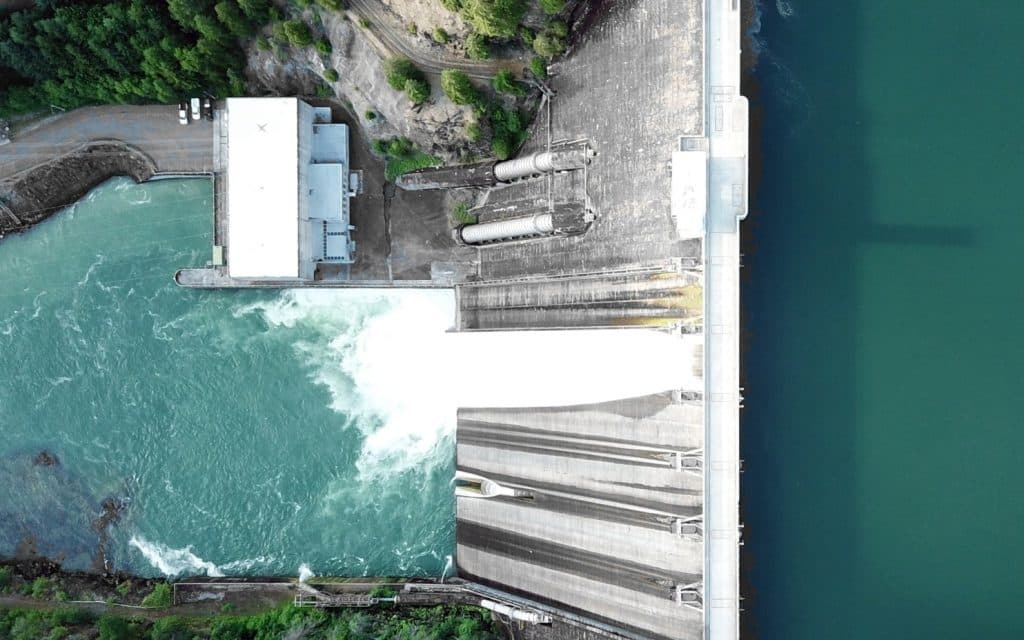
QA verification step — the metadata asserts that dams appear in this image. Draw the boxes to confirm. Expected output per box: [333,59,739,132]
[454,0,748,640]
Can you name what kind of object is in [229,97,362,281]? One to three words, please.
building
